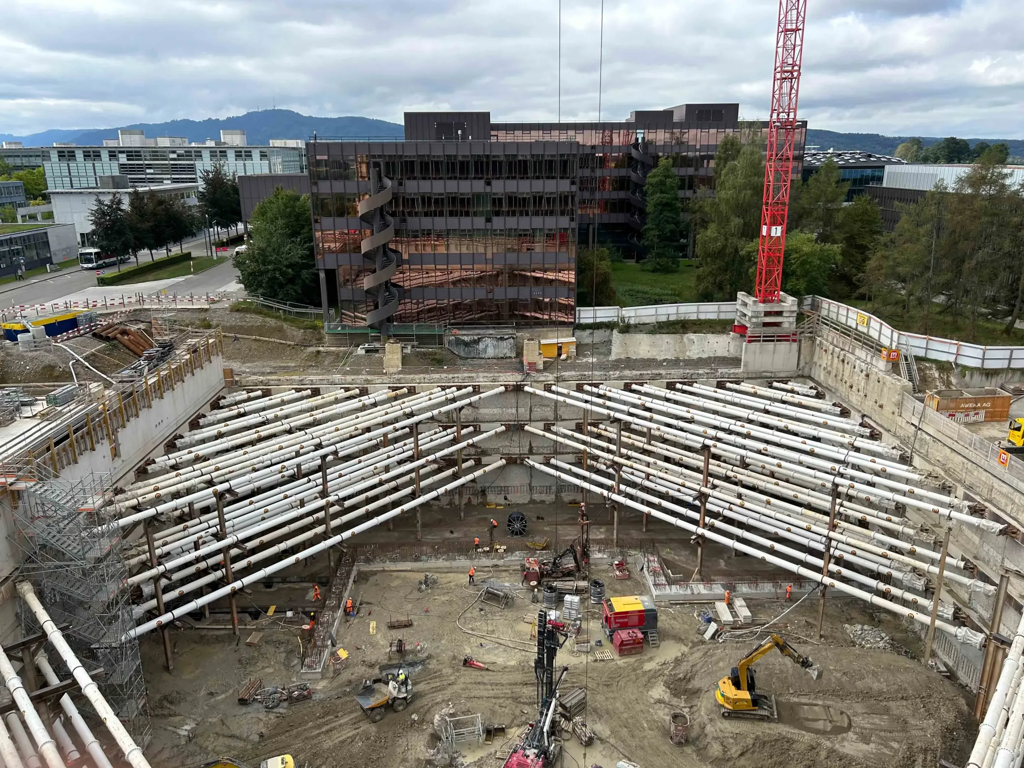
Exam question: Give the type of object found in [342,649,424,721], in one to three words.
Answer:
truck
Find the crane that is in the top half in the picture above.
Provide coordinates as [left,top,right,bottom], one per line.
[732,0,815,341]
